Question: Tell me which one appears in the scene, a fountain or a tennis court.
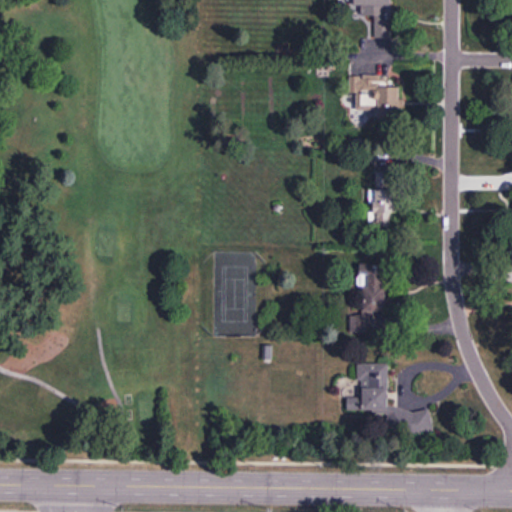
tennis court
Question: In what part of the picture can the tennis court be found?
center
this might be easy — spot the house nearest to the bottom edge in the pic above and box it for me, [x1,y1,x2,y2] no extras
[346,364,433,433]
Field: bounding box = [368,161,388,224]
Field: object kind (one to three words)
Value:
house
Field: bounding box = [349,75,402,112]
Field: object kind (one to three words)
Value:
house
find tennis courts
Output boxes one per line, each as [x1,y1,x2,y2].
[214,252,256,336]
